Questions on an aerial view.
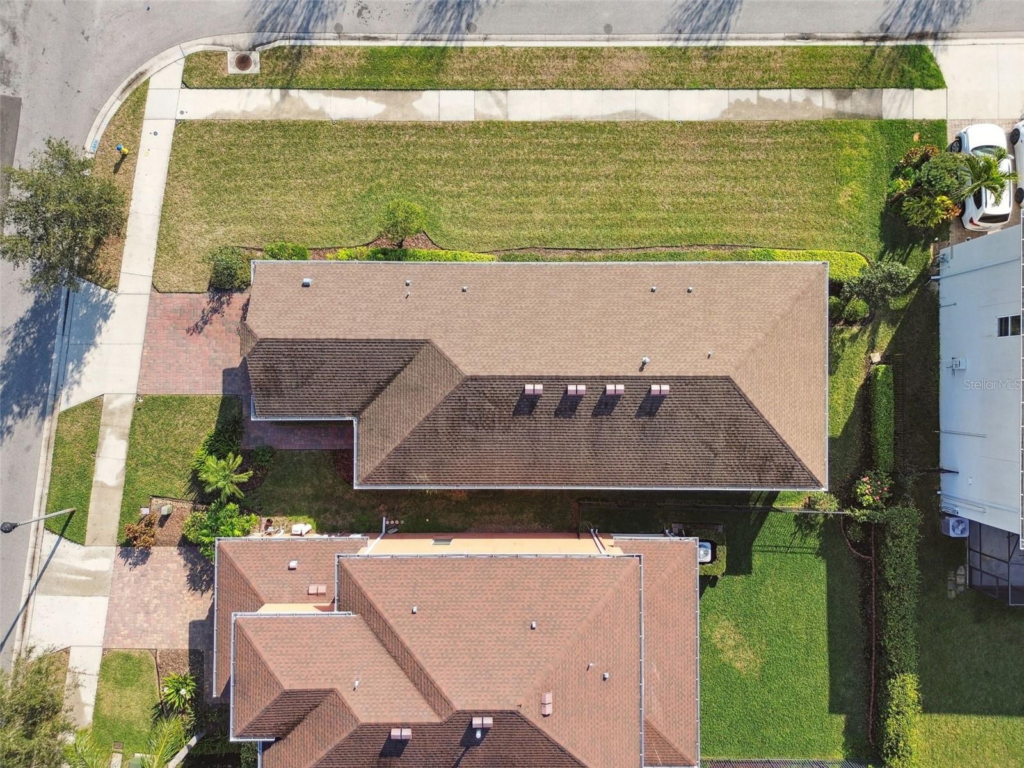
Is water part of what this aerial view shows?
No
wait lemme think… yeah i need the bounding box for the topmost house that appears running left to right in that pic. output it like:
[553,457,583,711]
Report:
[238,261,829,490]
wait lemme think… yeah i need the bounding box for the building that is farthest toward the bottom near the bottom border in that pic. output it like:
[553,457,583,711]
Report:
[215,518,699,768]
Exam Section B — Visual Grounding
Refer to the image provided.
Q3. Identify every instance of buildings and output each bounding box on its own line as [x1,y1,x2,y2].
[932,209,1024,551]
[215,518,699,768]
[238,261,829,490]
